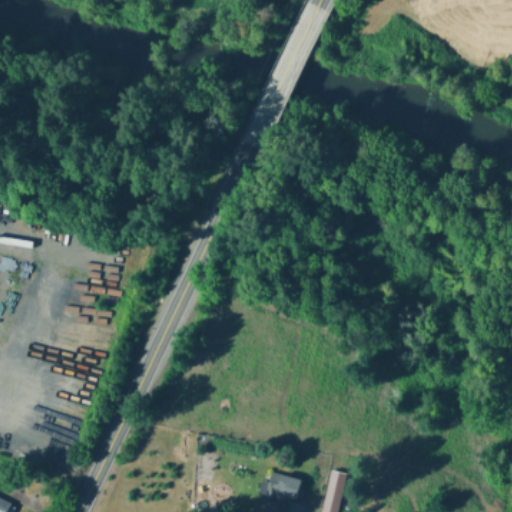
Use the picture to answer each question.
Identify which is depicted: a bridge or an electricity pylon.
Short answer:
bridge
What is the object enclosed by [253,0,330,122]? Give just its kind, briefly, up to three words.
bridge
